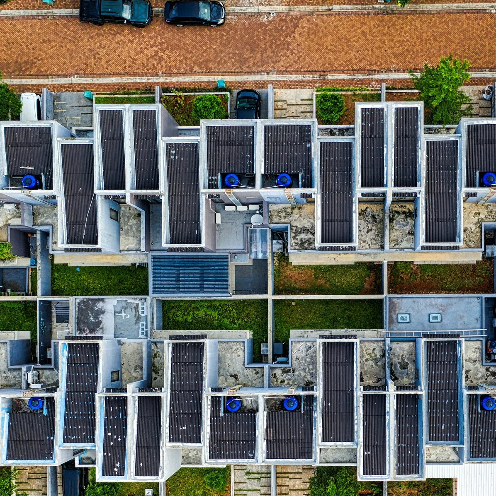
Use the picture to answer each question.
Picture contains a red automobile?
No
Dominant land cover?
buildings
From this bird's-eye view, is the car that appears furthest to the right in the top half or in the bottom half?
top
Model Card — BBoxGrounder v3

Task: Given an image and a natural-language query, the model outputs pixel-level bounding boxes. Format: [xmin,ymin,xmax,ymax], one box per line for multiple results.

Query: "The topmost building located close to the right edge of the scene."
[388,100,496,261]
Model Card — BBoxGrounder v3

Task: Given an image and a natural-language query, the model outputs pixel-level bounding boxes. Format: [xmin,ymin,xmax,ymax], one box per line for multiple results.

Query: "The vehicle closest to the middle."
[233,91,260,118]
